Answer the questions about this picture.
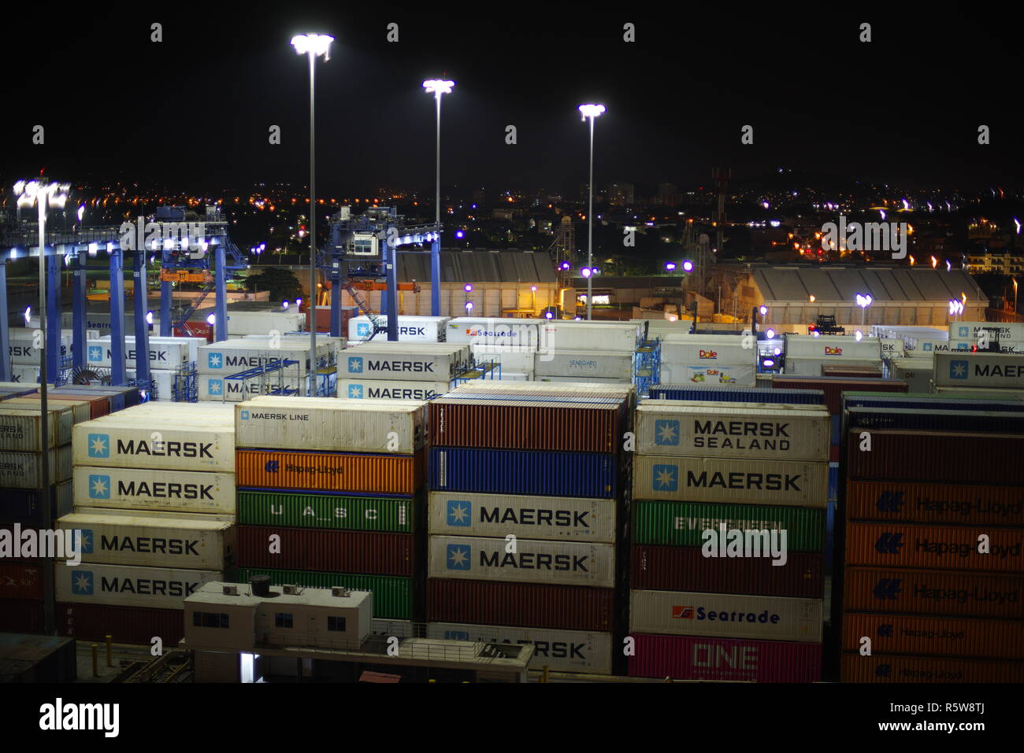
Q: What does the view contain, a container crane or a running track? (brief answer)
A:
container crane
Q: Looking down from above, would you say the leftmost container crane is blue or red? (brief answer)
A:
blue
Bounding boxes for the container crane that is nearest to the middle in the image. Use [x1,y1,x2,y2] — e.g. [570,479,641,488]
[310,187,443,389]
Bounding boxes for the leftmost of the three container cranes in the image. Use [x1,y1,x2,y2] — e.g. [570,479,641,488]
[0,223,130,387]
